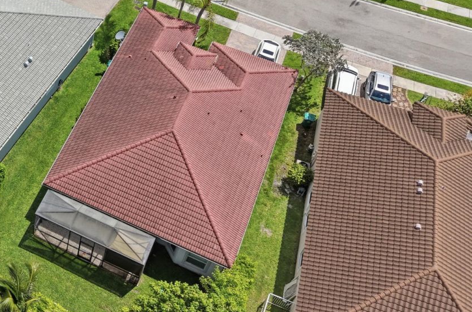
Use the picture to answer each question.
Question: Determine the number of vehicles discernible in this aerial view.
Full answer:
In total, there are 3 vehicles in the scene.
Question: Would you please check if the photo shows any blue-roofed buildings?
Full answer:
No, I can't see a single blue-roofed building in this photo.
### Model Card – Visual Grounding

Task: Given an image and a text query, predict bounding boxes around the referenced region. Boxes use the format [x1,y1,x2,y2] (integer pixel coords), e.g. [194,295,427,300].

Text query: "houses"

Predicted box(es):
[41,5,299,277]
[292,86,472,312]
[0,0,105,162]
